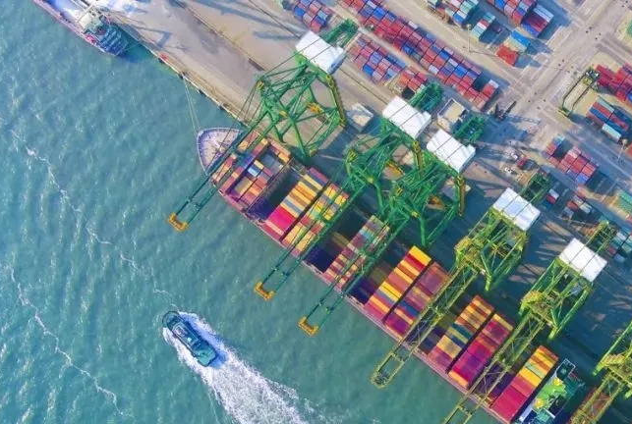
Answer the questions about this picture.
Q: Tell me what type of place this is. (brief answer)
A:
port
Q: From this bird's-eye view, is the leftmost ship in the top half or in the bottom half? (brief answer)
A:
top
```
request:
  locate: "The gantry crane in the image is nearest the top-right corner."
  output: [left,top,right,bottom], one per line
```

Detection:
[554,68,603,132]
